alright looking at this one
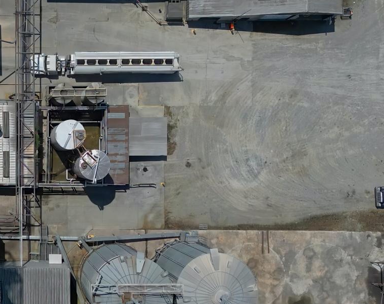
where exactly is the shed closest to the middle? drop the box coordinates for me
[129,117,167,156]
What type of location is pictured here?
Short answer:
industrial area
